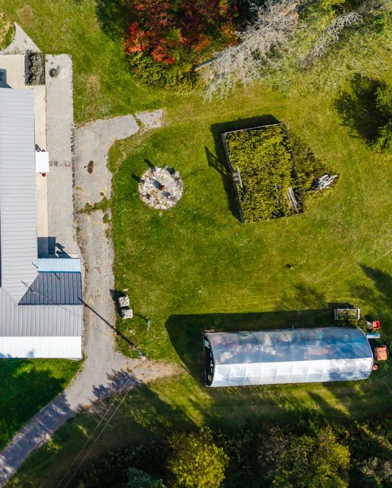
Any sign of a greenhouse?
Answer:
Yes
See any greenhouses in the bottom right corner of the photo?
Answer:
Yes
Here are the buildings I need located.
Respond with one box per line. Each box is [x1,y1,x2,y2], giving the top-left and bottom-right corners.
[205,326,373,389]
[0,86,82,360]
